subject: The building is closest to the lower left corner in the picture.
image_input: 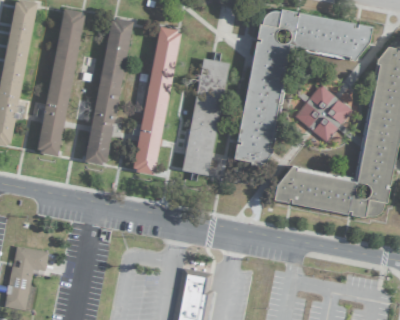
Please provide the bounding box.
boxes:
[0,246,54,310]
